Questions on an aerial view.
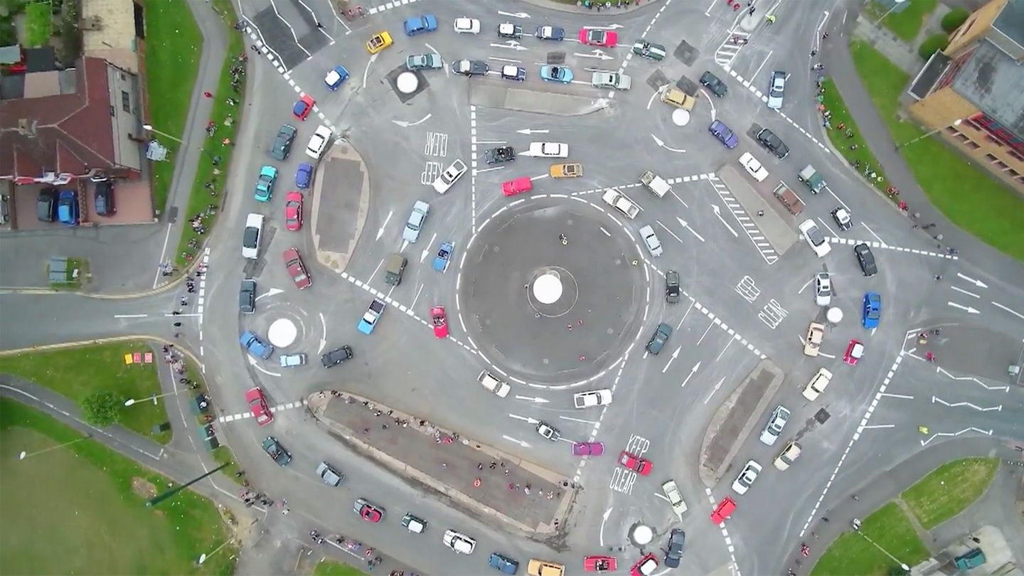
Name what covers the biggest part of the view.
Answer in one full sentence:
What you mostly see from above here is paved ground.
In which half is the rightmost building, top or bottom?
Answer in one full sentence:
The rightmost building sits in the top half of the picture.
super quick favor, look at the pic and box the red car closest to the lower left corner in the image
[245,385,276,428]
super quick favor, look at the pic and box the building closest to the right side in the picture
[897,0,1024,194]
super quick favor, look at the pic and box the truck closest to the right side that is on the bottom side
[951,547,989,574]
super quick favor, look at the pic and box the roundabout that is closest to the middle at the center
[533,273,562,303]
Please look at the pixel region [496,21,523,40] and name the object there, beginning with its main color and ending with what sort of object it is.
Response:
white car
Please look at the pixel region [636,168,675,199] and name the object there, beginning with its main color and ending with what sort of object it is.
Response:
white truck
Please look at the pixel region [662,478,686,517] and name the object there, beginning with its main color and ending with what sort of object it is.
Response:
white truck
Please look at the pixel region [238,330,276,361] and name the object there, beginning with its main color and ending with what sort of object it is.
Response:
blue car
